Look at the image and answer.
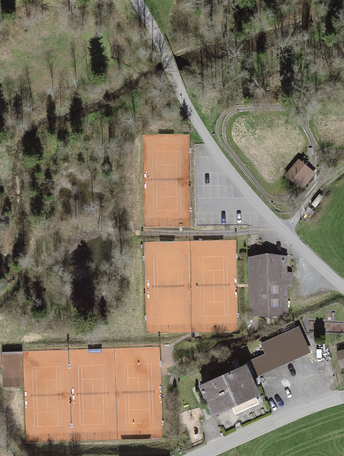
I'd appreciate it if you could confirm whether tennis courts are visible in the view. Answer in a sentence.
Yes, there's a tennis court here.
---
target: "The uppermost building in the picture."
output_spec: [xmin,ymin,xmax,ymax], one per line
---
[286,159,316,188]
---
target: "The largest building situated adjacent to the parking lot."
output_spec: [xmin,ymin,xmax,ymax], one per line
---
[248,254,292,317]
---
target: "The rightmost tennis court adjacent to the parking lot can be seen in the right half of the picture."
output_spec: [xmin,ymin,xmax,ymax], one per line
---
[190,240,238,332]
